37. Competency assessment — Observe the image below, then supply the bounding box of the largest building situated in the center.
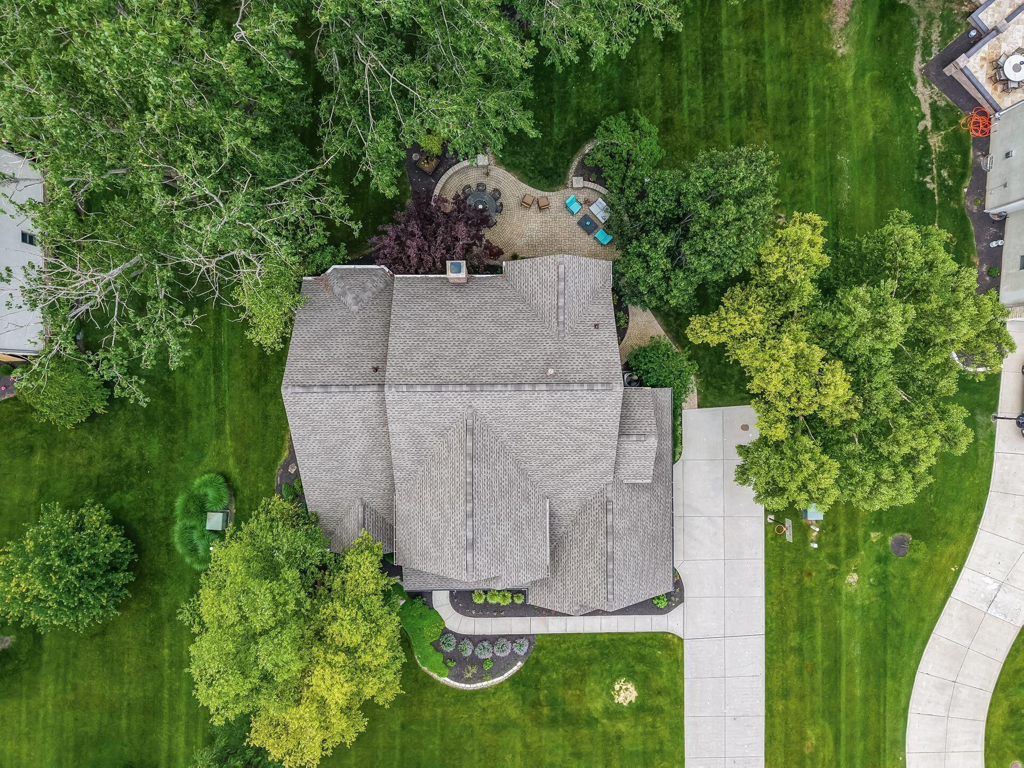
[280,254,676,615]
